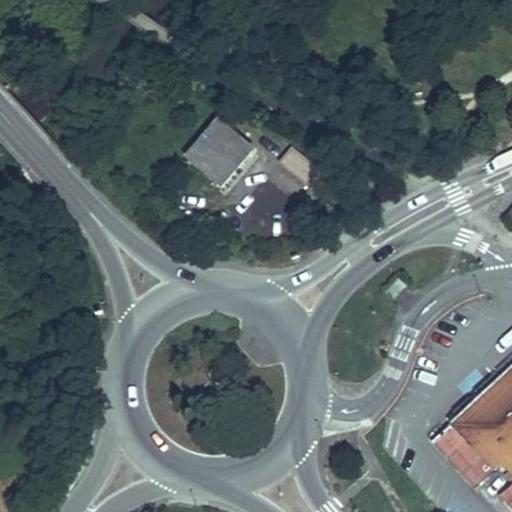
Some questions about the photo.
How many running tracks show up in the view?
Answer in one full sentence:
Not a single running track can be seen.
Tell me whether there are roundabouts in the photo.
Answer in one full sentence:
Yes, I can see a roundabout in this picture.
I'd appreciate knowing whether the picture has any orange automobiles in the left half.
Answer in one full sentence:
No, no orange automobile can be made out in the left half.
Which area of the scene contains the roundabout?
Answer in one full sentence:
The roundabout is in the bottom part of the image.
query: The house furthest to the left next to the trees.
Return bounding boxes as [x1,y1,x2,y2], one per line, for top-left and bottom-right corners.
[184,117,258,194]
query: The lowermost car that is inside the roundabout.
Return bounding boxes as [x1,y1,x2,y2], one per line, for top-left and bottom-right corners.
[150,432,170,452]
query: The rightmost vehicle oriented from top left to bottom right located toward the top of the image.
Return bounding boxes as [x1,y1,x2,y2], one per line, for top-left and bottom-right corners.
[260,136,280,156]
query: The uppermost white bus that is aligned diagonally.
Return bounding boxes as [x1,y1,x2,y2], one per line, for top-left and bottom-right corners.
[480,148,512,176]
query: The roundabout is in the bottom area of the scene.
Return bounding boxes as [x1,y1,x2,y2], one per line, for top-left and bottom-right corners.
[104,272,329,498]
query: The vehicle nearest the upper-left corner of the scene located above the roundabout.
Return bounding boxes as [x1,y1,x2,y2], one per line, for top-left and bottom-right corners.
[183,196,206,208]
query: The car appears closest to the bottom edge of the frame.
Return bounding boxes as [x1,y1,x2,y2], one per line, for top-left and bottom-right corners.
[487,477,508,496]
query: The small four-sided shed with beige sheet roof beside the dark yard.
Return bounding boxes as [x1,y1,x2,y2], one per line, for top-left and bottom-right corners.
[280,146,312,190]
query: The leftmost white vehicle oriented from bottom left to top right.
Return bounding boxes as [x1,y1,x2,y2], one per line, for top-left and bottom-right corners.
[236,196,256,214]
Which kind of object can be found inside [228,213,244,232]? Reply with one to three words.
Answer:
car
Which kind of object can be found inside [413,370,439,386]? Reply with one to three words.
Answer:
vehicle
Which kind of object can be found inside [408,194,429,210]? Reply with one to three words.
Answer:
car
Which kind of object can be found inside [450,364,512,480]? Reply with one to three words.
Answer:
building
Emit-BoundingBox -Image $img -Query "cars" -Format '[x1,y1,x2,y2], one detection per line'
[487,477,508,496]
[246,174,268,186]
[183,196,206,208]
[260,136,280,156]
[236,196,256,214]
[437,320,459,336]
[128,386,138,408]
[430,332,452,348]
[408,194,429,210]
[176,268,198,282]
[150,432,170,452]
[372,245,394,263]
[418,358,440,372]
[400,448,416,470]
[228,213,244,232]
[450,311,471,327]
[272,216,283,236]
[292,270,314,286]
